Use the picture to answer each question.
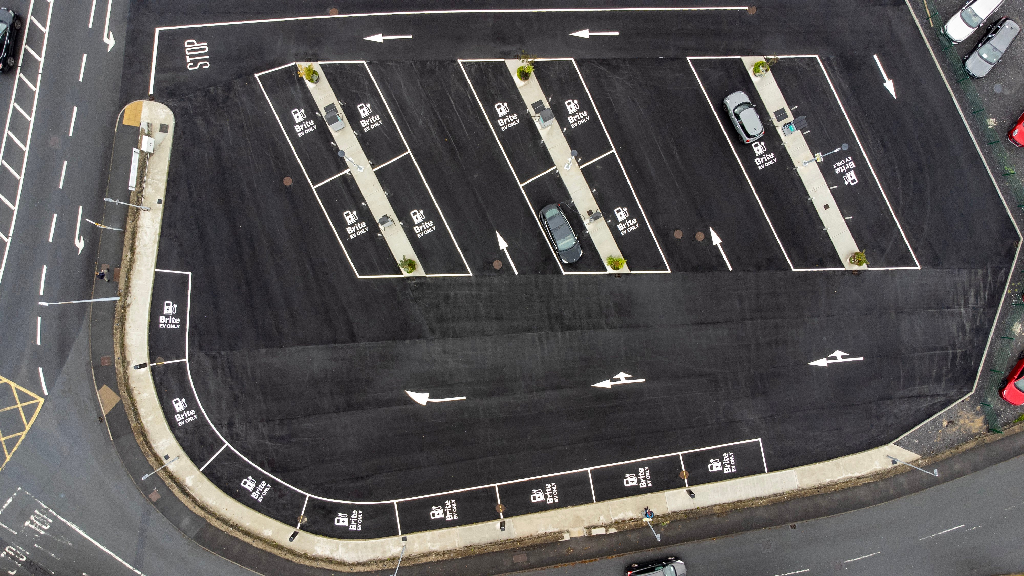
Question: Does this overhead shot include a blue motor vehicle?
No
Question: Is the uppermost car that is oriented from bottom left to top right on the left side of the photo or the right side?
right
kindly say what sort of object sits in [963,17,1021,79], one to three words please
car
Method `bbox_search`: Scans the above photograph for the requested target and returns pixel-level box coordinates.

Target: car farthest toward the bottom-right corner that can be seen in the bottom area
[1000,351,1024,402]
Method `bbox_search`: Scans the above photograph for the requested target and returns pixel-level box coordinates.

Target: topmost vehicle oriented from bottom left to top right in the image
[943,0,1006,44]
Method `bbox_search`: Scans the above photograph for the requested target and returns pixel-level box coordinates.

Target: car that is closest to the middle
[541,201,583,265]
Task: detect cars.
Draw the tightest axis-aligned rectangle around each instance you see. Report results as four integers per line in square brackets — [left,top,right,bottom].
[0,8,22,72]
[625,556,687,576]
[1011,119,1024,149]
[541,201,583,265]
[943,0,1006,44]
[723,90,766,144]
[1000,351,1024,402]
[963,17,1021,79]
